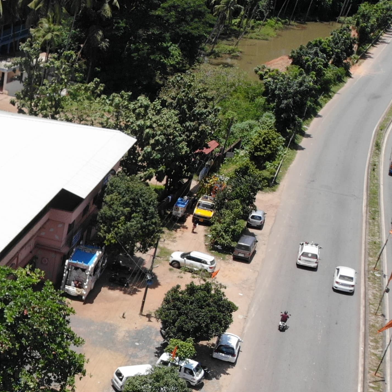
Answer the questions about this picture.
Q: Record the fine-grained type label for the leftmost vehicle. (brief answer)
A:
truck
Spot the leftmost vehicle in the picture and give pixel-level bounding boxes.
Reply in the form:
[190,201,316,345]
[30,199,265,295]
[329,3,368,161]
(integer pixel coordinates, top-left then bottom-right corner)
[64,230,112,293]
